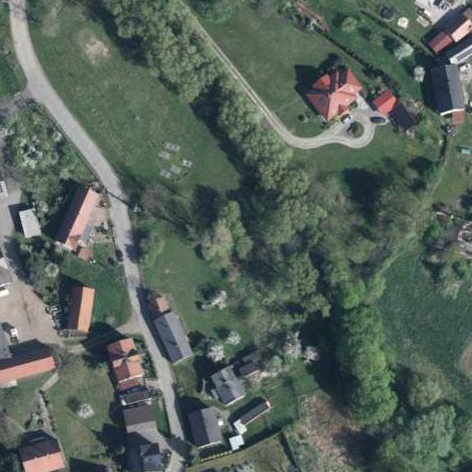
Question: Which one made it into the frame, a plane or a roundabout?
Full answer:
Looking from above, you can make out a roundabout.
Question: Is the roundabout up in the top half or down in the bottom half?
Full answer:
The roundabout is in the top half of the image.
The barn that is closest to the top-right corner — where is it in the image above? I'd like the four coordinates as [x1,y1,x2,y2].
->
[443,8,472,43]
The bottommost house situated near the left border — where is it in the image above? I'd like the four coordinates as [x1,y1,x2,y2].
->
[19,438,65,472]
